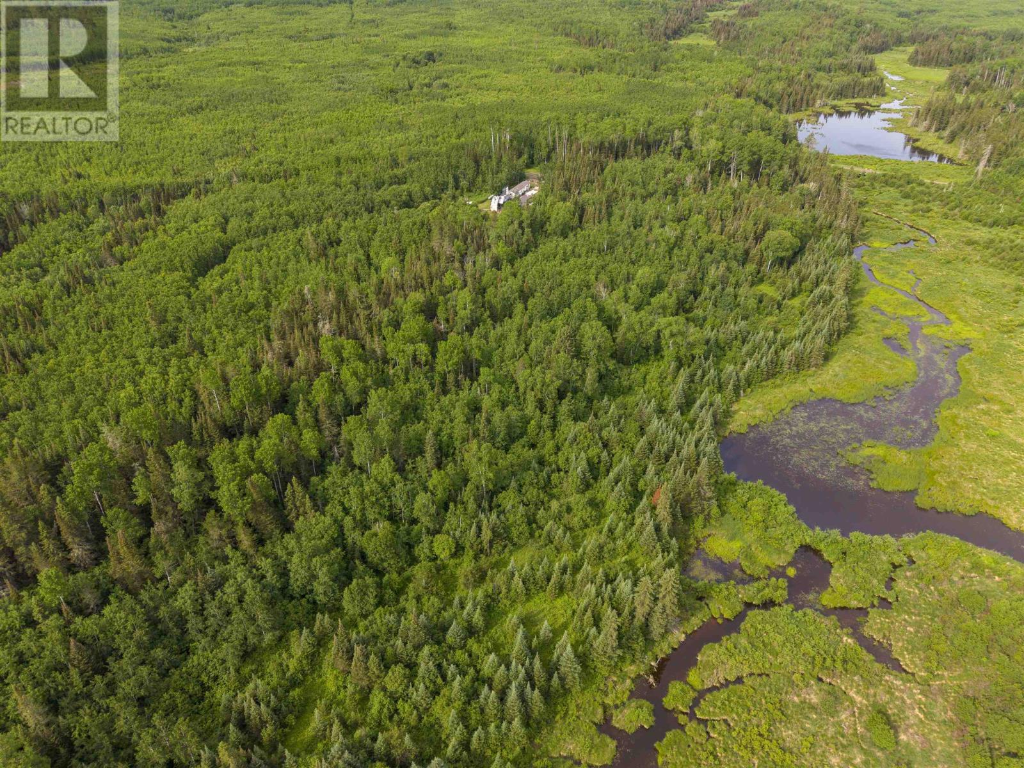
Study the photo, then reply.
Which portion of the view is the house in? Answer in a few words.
top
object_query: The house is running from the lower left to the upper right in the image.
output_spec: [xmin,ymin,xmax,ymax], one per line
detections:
[497,177,537,210]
